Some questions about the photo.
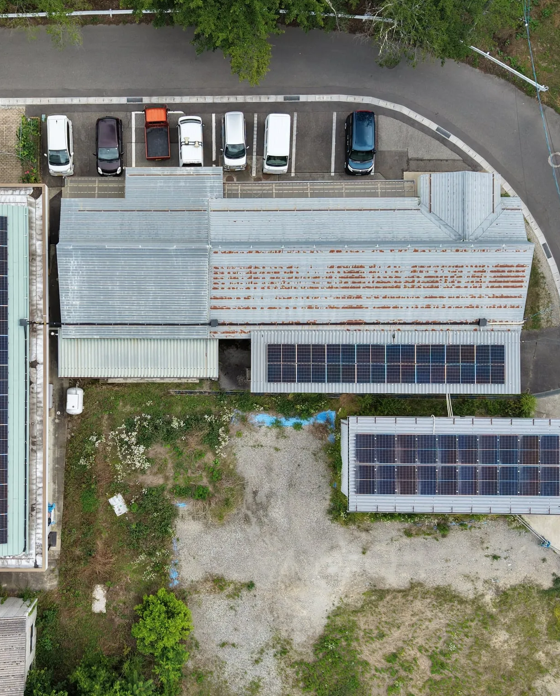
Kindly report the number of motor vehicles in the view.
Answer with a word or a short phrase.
7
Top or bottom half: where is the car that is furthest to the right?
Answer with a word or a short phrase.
top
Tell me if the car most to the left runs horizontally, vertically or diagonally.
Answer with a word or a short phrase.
vertically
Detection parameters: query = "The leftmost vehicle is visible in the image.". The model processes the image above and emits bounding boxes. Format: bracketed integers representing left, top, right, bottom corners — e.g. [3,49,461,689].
[45,119,75,177]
